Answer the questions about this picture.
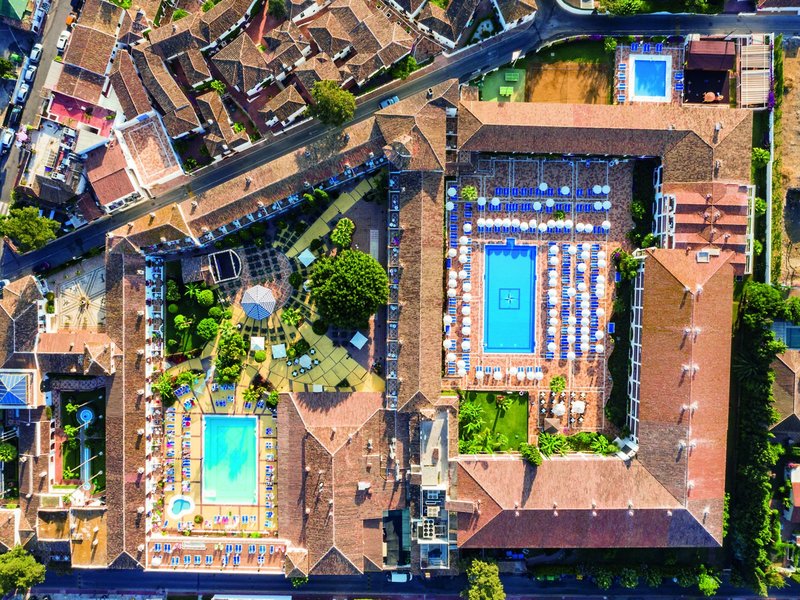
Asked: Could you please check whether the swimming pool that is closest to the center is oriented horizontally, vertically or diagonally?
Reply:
vertically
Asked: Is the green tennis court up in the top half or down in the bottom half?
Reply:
top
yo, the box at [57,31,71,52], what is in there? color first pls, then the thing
white car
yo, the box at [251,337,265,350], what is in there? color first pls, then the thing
white umbrella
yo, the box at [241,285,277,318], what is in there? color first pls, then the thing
white gazebo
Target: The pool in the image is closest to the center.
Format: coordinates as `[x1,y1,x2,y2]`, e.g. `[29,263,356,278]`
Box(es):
[483,237,538,354]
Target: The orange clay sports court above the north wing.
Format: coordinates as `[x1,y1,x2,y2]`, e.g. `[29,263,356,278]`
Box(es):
[526,62,613,103]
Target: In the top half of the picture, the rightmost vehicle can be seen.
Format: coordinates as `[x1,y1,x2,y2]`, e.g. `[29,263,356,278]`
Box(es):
[379,94,400,109]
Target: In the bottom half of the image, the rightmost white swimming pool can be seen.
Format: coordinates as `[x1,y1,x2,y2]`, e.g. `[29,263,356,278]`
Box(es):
[166,493,193,516]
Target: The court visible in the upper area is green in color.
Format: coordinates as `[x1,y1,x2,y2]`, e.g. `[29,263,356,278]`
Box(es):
[479,69,525,101]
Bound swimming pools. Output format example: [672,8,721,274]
[483,237,538,354]
[630,55,671,101]
[786,327,800,348]
[202,415,259,505]
[166,493,193,516]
